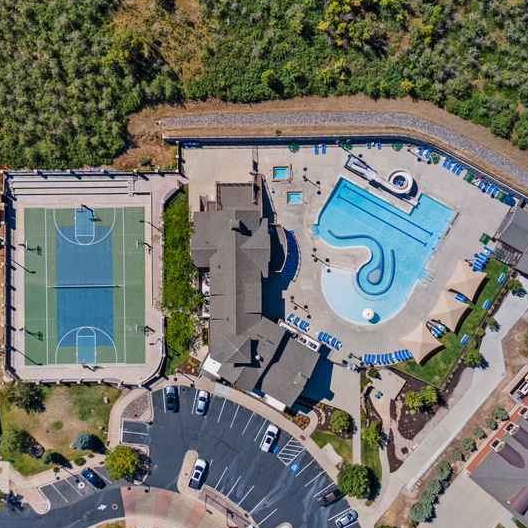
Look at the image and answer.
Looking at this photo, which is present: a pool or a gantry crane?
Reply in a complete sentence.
There is a pool in the scene.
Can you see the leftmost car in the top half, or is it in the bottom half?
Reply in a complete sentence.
It is in the bottom half that the leftmost car appears.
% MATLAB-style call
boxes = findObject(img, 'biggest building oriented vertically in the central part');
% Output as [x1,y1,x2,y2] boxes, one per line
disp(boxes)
[191,173,286,390]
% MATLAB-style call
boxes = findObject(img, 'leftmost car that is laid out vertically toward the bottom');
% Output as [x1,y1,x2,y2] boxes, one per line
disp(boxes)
[165,385,177,412]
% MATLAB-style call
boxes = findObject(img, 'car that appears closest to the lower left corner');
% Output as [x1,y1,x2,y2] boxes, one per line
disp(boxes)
[83,465,106,489]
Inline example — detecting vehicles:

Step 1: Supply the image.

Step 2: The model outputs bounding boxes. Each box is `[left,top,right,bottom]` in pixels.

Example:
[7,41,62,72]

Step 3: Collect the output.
[188,457,208,491]
[260,422,278,453]
[313,486,344,510]
[83,465,106,489]
[196,389,209,416]
[333,509,359,527]
[165,385,177,412]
